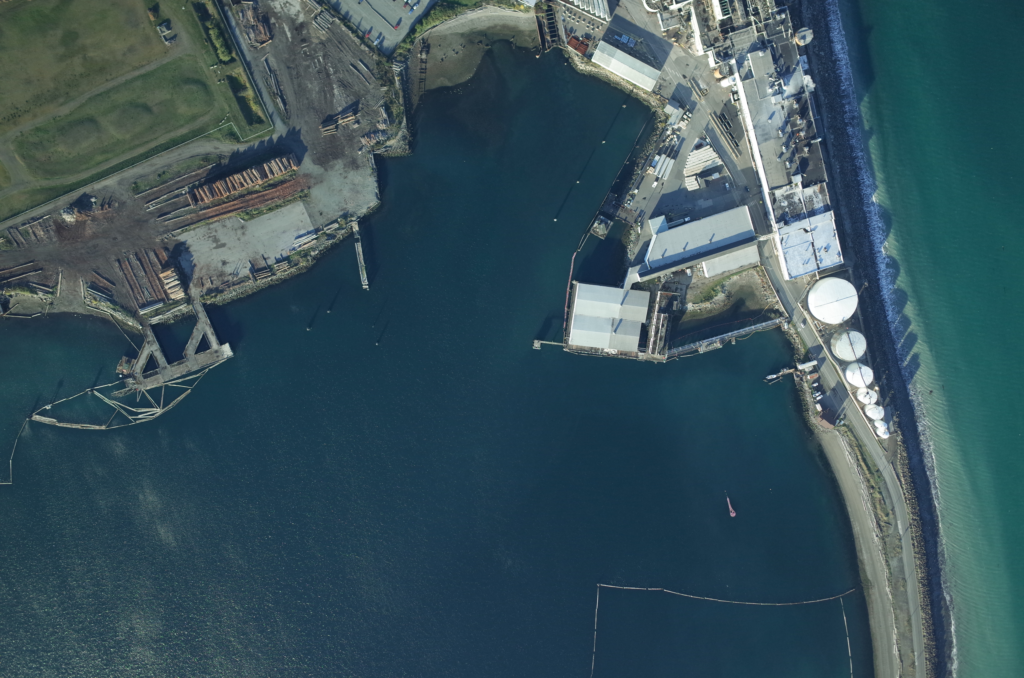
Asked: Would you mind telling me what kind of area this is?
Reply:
port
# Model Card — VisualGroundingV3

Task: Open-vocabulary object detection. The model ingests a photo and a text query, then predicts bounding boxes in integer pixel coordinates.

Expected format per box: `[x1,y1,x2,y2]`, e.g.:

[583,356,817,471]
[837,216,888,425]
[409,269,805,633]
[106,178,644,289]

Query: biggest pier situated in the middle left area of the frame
[124,295,234,389]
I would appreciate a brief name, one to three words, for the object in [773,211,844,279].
building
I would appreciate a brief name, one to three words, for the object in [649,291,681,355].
building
